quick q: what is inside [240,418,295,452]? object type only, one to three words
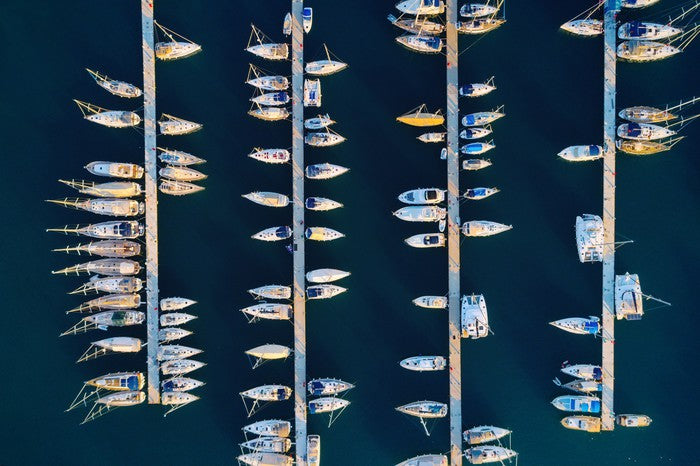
boat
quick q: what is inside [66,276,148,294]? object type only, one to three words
boat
